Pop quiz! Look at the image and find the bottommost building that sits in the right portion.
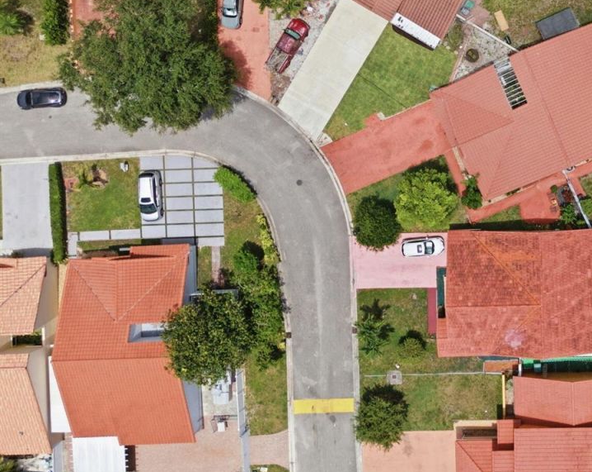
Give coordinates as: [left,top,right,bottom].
[456,370,592,472]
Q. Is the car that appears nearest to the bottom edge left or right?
right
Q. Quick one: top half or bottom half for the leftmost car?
top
